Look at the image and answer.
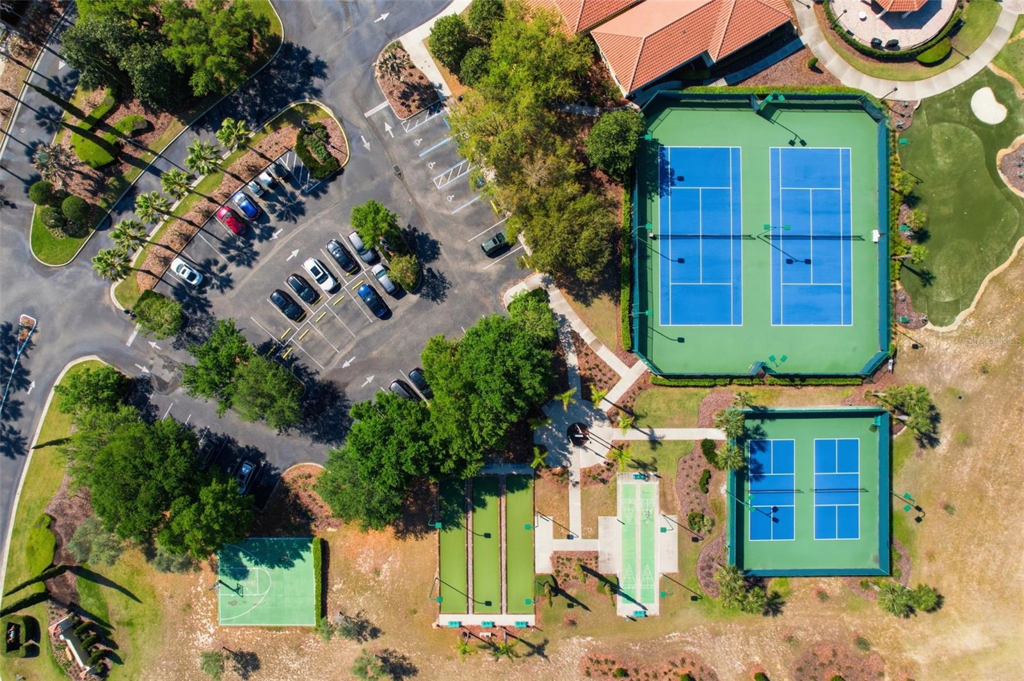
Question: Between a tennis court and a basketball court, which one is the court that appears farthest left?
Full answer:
In the photo, the court that appears farthest left shows up as a basketball court.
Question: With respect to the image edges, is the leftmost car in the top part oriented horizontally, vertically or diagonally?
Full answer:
The leftmost car in the top part has been laid out diagonally relative to the frame.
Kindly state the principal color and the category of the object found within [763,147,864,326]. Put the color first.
blue tennis court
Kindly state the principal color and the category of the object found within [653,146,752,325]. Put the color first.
blue tennis court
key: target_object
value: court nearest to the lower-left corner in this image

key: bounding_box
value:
[218,538,314,626]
